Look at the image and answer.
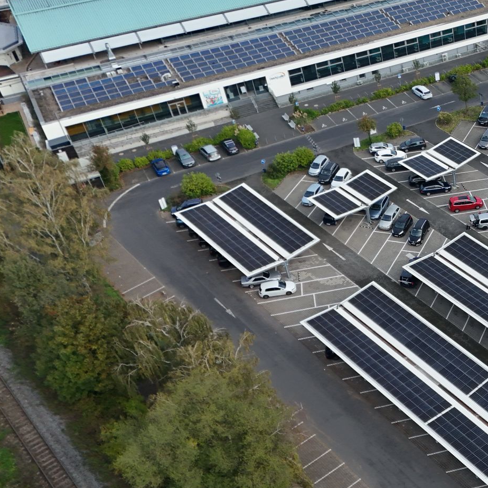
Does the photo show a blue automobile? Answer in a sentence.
Yes, the picture does show a blue automobile.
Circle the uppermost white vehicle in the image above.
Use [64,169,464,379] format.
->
[411,86,432,101]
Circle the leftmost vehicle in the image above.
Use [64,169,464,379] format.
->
[151,158,171,177]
